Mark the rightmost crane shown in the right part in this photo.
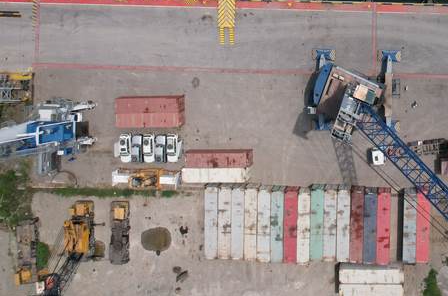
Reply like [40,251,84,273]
[309,48,448,234]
